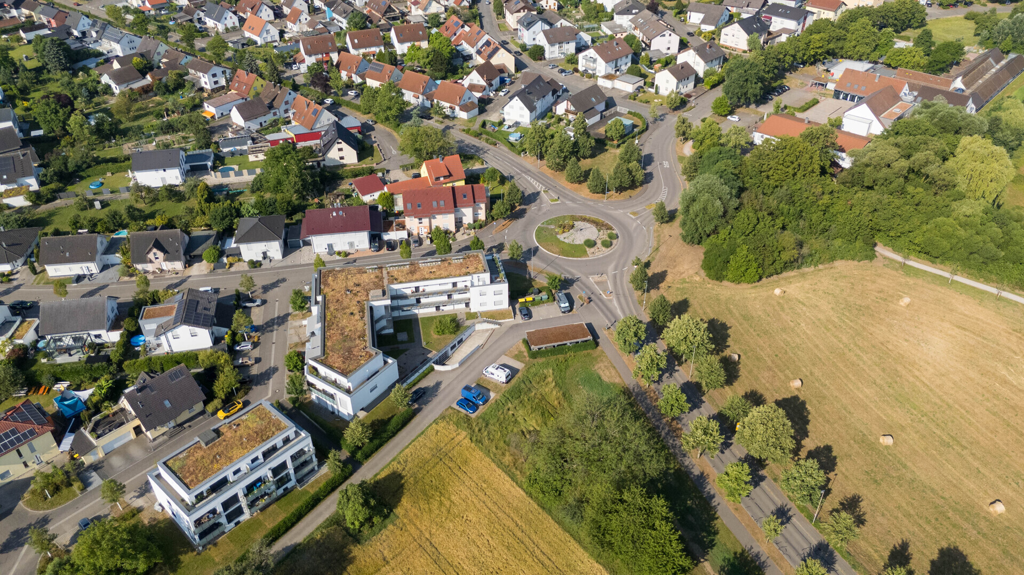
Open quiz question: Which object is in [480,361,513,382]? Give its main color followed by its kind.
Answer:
white vehicle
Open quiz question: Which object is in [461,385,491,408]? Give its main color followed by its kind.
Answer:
blue vehicle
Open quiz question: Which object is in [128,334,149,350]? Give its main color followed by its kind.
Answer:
blue swimming pool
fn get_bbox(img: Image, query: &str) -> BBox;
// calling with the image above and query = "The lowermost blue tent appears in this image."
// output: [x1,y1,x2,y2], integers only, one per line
[54,391,90,429]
